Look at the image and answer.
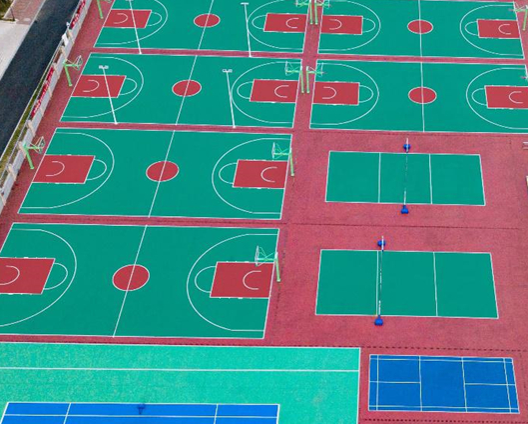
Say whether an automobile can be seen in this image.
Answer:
No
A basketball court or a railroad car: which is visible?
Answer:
basketball court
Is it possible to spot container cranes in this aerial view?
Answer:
No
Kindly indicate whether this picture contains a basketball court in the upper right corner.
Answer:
Yes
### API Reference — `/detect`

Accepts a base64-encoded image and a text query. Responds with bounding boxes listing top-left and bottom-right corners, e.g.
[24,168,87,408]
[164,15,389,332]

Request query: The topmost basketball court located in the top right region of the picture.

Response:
[318,0,525,59]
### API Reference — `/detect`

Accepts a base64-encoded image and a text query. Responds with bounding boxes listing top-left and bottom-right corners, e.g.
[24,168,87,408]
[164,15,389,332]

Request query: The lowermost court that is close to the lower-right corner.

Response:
[368,356,519,413]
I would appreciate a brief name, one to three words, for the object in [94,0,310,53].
basketball court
